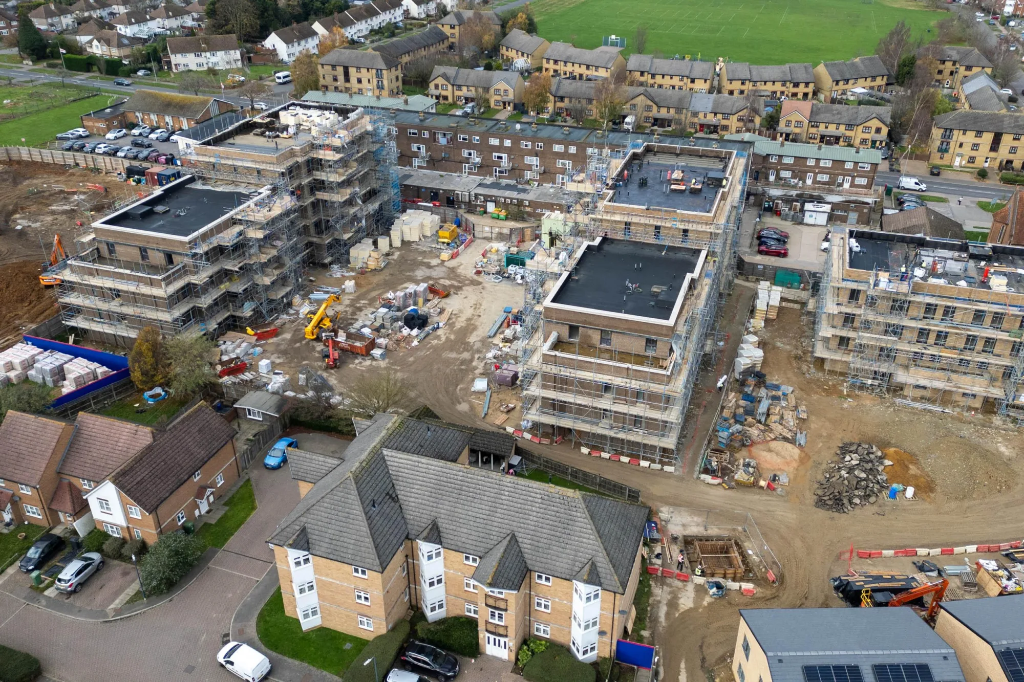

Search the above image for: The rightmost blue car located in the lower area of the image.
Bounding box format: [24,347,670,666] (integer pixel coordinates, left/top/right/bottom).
[266,437,300,466]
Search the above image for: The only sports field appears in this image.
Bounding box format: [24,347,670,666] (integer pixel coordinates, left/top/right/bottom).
[535,0,942,79]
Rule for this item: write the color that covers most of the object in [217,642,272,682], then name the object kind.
white van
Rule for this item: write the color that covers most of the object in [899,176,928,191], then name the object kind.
white vehicle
